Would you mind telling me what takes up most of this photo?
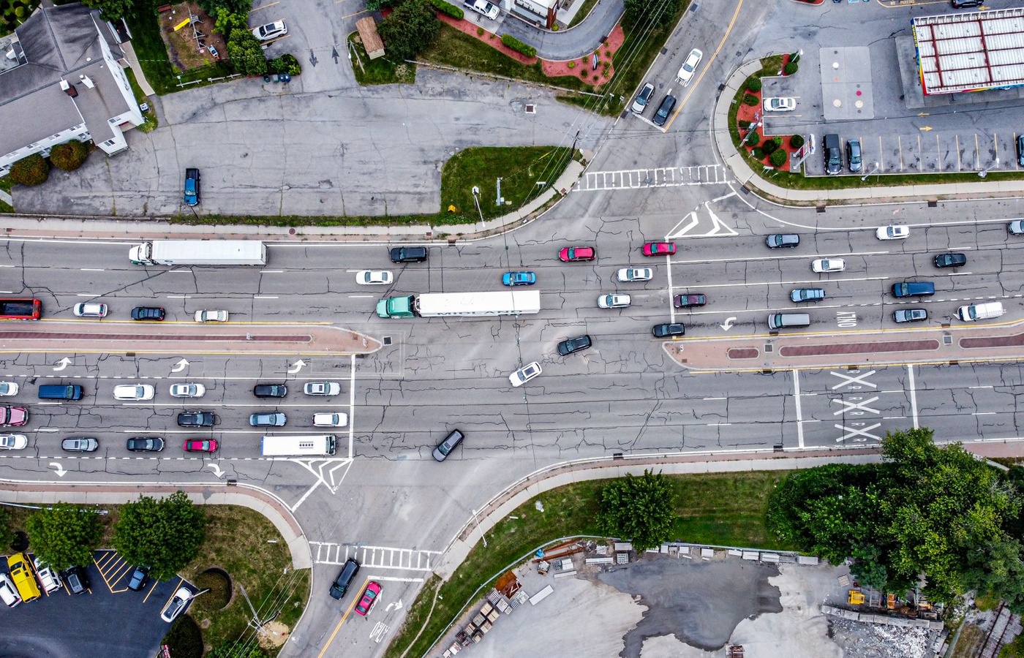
paved ground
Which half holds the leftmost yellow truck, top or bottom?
bottom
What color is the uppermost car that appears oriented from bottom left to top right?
white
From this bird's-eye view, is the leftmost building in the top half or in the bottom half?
top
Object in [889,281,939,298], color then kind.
blue vehicle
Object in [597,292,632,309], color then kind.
white car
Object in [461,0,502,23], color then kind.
white truck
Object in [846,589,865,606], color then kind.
yellow work vehicle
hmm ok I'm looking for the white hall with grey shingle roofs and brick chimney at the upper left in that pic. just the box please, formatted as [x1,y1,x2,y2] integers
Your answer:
[0,2,142,174]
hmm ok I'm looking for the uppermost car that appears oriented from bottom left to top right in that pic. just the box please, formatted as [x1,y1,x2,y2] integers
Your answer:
[674,46,705,86]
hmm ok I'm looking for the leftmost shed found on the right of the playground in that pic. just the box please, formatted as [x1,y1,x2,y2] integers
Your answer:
[356,16,385,60]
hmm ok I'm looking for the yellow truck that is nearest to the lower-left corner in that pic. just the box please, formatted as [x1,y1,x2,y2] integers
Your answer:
[8,552,44,605]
